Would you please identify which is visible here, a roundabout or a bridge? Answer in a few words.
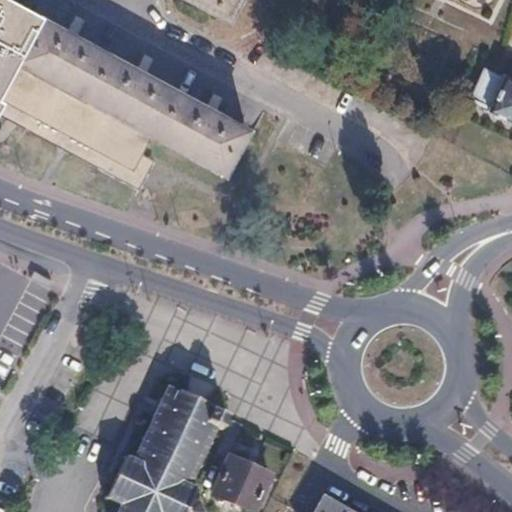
roundabout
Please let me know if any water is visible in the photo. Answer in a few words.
No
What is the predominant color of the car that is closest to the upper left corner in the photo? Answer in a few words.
white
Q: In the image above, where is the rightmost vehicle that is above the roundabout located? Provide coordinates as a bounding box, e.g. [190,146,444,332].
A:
[423,258,442,278]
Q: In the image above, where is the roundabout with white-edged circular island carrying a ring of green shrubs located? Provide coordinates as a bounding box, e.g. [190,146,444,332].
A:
[329,292,478,440]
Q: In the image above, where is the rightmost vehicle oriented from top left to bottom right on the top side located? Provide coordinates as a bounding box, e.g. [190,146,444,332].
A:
[214,46,235,64]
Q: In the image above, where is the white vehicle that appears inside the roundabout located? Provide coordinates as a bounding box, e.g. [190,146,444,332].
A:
[350,330,369,350]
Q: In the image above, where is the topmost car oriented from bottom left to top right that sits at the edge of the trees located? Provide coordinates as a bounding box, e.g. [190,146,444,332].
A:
[248,41,265,62]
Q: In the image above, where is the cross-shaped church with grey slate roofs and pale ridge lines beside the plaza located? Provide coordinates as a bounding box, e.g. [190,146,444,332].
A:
[106,381,232,512]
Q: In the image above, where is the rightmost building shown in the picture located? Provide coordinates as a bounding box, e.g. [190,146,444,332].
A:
[468,67,512,122]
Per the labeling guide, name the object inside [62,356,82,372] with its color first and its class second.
white car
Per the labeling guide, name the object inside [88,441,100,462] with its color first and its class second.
white vehicle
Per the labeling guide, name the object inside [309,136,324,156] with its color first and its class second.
gray car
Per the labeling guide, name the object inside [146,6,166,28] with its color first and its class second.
white car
